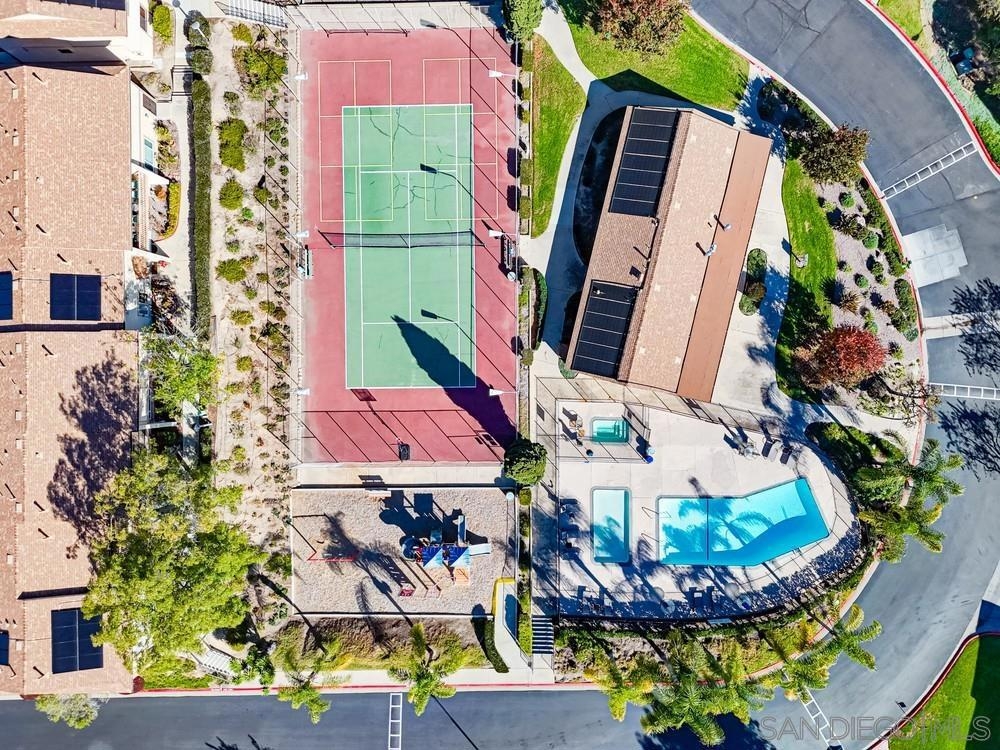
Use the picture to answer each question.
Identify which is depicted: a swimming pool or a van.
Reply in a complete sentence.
Visible in the photo is a swimming pool.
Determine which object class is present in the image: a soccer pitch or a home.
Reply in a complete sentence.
This aerial view contains a home.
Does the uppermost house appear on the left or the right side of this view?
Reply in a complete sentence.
You can find the uppermost house on the left side of the picture.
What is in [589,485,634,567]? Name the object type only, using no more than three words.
swimming pool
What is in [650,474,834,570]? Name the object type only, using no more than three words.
swimming pool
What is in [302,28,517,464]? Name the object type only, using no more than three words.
tennis court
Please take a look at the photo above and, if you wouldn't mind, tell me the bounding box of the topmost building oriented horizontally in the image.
[0,0,146,61]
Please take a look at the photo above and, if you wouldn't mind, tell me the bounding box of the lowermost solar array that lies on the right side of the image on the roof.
[570,279,637,378]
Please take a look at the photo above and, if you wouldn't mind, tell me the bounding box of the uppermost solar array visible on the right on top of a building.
[606,108,677,220]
